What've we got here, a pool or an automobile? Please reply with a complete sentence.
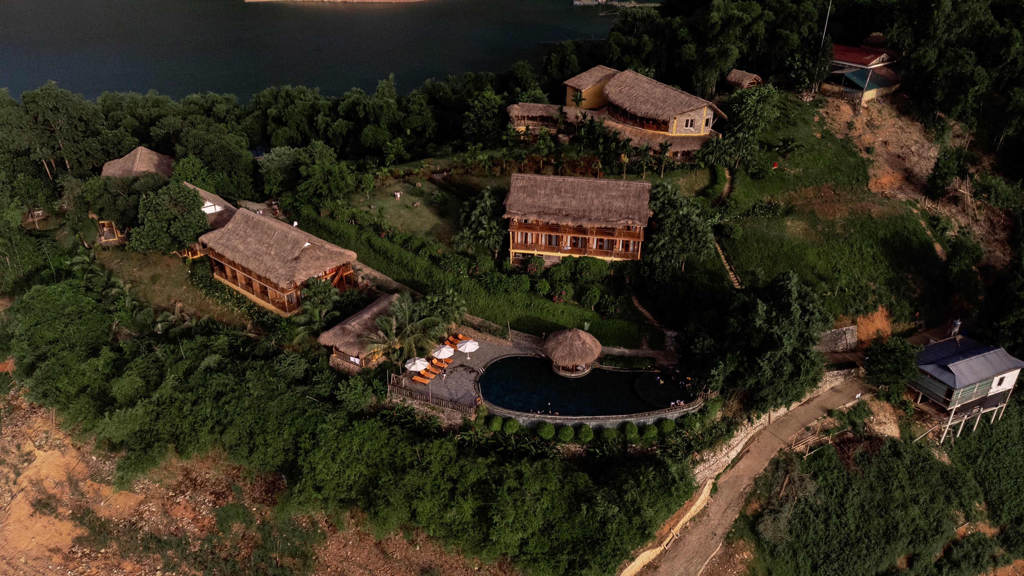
Of the two, only a pool appears.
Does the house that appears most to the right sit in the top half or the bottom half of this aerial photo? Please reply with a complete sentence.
Seen from above, the house that appears most to the right lies in the bottom half of the view.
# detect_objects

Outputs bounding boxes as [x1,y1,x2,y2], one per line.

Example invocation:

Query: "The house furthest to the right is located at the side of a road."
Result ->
[899,331,1024,451]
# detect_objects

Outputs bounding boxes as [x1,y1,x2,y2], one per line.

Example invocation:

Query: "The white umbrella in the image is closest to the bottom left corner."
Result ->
[405,354,428,377]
